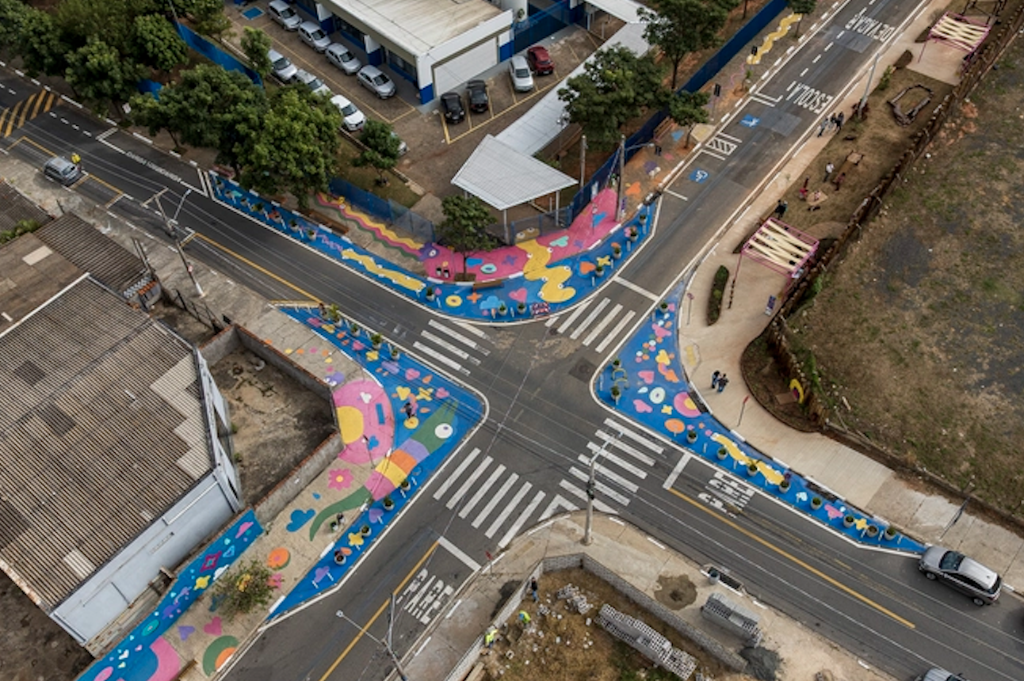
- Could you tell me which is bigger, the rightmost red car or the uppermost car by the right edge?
the uppermost car by the right edge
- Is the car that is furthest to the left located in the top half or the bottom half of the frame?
top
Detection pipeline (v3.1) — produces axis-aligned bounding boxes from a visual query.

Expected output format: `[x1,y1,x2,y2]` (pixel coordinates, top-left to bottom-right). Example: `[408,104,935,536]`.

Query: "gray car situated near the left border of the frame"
[37,151,86,185]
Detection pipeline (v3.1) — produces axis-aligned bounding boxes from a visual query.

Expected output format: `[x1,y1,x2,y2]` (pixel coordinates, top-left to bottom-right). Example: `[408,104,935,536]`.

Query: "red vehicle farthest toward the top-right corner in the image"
[525,42,556,72]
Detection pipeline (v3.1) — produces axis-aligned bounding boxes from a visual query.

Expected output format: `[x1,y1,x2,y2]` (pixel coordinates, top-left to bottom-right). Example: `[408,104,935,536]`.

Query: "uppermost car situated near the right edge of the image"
[912,546,1011,615]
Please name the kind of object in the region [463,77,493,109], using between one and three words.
car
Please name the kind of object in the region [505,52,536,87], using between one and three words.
car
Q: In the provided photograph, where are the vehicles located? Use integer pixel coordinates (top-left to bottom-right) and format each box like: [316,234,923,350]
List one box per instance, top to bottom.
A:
[292,15,333,48]
[322,36,364,71]
[525,42,556,72]
[260,44,296,76]
[505,52,536,87]
[353,59,398,95]
[287,60,330,96]
[463,77,493,109]
[437,85,467,122]
[322,89,367,127]
[392,130,418,161]
[37,151,86,185]
[912,546,1011,615]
